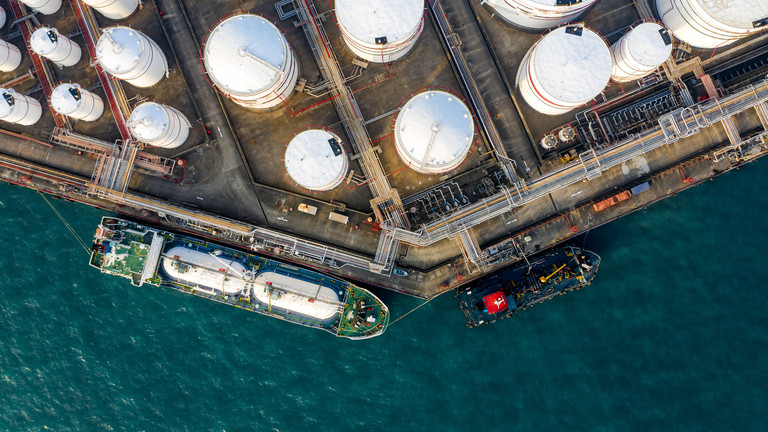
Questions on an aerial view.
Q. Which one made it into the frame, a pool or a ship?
ship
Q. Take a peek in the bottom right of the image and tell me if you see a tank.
No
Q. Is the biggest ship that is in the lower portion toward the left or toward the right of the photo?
left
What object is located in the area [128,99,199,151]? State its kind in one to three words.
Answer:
storage tank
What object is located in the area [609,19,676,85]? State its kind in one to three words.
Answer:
storage tank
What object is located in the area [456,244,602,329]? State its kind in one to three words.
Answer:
ship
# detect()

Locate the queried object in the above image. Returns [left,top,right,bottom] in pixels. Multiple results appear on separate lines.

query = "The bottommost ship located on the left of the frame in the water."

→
[89,216,389,342]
